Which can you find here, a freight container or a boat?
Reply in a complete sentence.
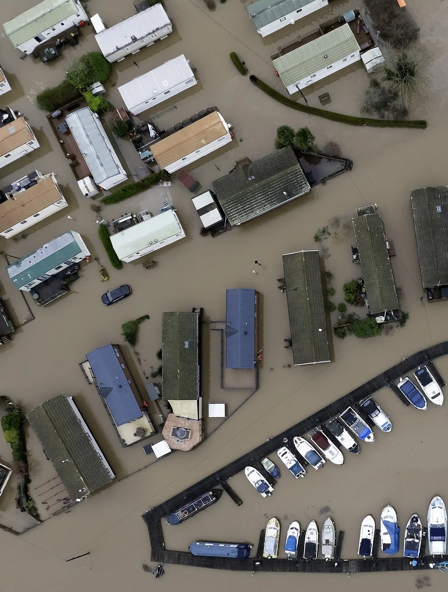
The image shows a boat.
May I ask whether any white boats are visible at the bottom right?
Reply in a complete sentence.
Yes, a white boat is visible at the bottom right.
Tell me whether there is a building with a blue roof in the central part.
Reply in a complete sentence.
Yes, a building with a blue roof is visible in the central part.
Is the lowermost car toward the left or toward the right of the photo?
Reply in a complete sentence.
The lowermost car sits on the left side.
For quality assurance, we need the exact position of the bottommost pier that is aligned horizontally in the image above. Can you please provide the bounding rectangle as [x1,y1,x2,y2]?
[150,548,448,572]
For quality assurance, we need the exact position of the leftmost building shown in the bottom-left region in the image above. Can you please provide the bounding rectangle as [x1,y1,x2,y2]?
[26,393,117,504]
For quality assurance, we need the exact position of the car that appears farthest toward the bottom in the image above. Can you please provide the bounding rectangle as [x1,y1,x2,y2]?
[102,284,135,306]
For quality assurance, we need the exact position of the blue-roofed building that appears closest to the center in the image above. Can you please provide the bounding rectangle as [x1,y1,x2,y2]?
[226,288,257,369]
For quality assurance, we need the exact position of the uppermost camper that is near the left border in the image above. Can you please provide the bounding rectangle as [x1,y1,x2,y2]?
[3,0,84,54]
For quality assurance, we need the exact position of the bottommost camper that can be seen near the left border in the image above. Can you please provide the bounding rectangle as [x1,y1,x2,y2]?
[5,232,87,289]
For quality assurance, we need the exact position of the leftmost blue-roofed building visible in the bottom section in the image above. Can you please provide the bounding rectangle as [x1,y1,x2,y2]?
[86,344,147,426]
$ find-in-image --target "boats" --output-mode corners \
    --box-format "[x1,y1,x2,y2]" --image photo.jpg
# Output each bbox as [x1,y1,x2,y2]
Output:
[265,517,280,560]
[245,466,273,496]
[404,514,422,557]
[279,447,305,477]
[160,205,173,211]
[308,427,342,464]
[428,496,447,558]
[284,521,300,556]
[398,377,426,410]
[341,407,374,443]
[380,505,400,558]
[360,398,390,431]
[414,364,443,405]
[264,458,280,478]
[167,487,225,524]
[358,514,375,559]
[294,437,326,467]
[155,560,166,579]
[304,520,319,558]
[320,518,337,561]
[328,418,360,453]
[189,538,252,558]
